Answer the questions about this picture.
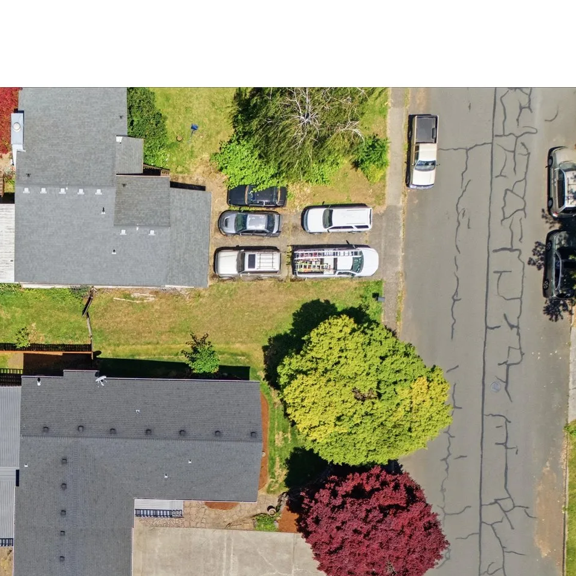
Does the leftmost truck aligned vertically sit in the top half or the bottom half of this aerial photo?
top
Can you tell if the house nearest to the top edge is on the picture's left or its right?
left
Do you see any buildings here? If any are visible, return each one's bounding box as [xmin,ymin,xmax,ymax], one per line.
[12,370,262,576]
[10,84,212,290]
